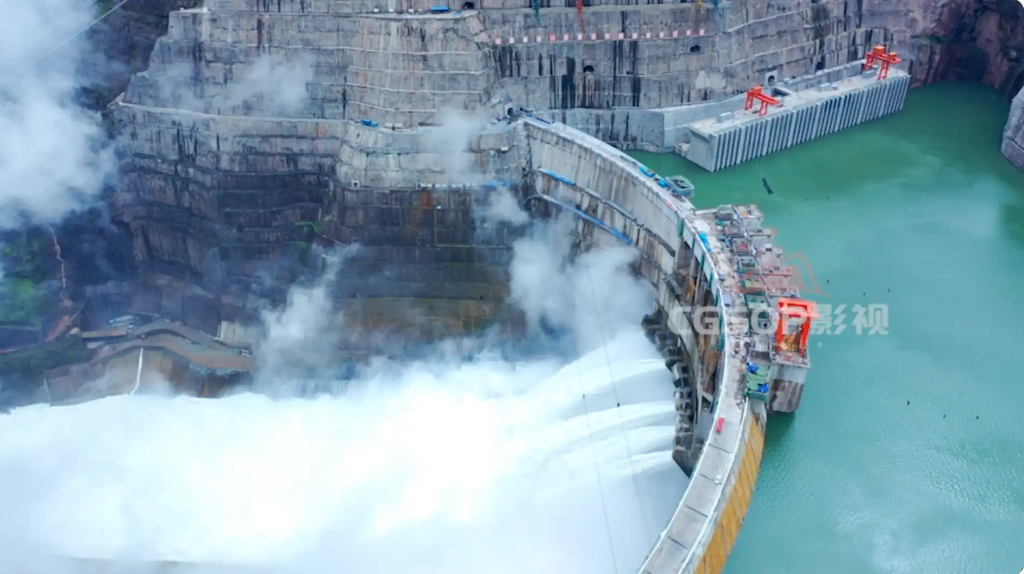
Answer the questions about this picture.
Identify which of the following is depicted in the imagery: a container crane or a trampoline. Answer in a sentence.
This aerial view contains a container crane.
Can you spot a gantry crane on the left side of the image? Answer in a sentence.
No, I can find no gantry crane on the left side of the image.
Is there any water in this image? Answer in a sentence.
Yes, there is water in the image.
